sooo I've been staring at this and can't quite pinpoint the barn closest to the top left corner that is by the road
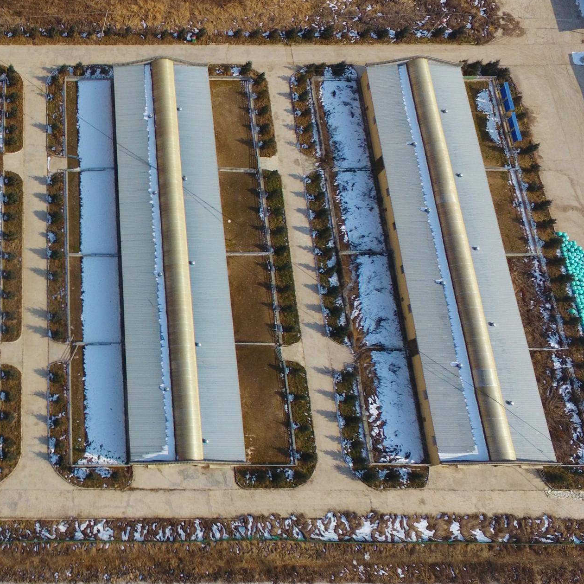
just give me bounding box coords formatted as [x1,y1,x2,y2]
[109,54,249,466]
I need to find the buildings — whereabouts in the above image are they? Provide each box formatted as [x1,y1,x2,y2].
[109,54,249,466]
[357,54,561,466]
